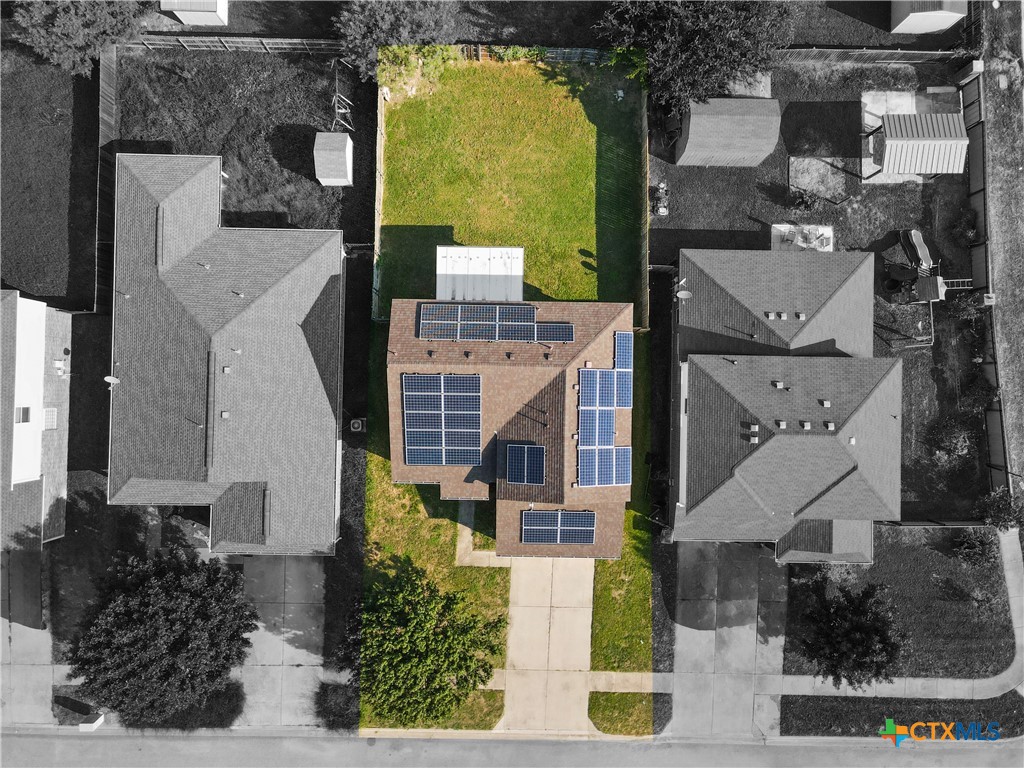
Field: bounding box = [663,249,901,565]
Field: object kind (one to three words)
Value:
house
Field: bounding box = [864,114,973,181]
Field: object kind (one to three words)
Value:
building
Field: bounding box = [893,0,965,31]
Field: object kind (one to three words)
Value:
shed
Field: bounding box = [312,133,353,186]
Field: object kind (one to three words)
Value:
shed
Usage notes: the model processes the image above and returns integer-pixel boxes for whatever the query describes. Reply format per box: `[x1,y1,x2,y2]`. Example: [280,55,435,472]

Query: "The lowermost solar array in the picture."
[519,512,597,546]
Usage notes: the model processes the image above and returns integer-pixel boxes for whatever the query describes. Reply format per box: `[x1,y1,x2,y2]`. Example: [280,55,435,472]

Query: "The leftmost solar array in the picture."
[400,375,483,468]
